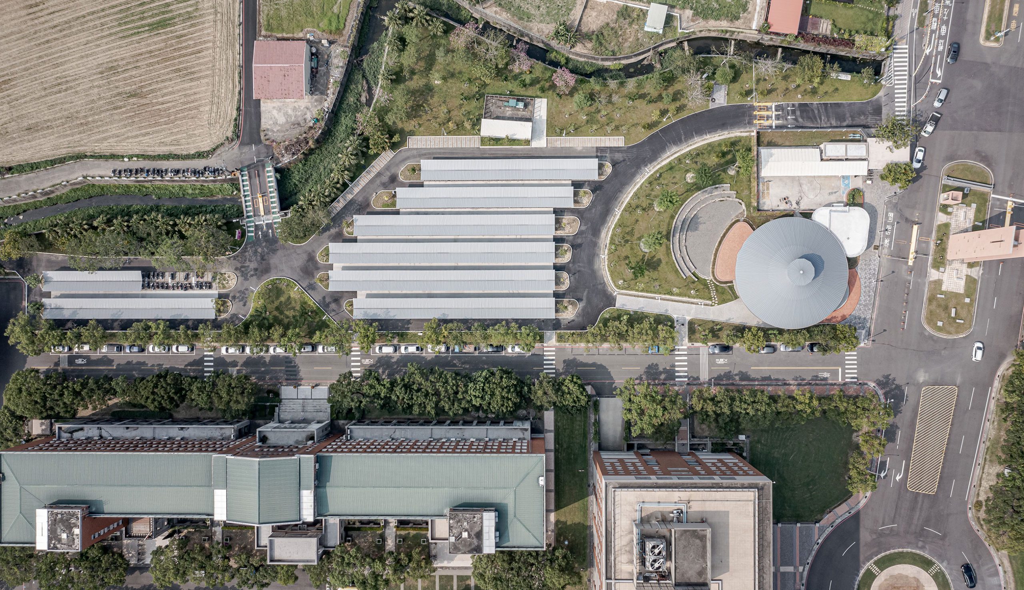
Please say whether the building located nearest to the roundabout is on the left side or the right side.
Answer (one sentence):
It is on the right.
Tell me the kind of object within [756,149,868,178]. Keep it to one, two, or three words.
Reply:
shed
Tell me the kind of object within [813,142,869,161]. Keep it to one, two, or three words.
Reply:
building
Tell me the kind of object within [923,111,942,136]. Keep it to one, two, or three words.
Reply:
vehicle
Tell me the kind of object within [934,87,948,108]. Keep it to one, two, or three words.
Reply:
car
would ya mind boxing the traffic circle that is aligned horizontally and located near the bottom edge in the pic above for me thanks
[855,549,953,590]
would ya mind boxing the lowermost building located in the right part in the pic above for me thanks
[589,451,784,590]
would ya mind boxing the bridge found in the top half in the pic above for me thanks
[238,163,282,239]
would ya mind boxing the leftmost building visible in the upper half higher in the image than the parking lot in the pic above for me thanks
[252,40,314,104]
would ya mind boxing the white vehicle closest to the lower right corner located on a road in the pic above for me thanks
[972,342,984,362]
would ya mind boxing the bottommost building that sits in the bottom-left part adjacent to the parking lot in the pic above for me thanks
[0,417,548,564]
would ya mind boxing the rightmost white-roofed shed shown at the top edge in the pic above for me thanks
[643,2,668,37]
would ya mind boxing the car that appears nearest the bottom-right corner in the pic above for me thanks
[962,564,976,589]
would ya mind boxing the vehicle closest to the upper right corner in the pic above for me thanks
[947,41,960,63]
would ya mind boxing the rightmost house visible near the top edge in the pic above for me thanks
[762,0,803,40]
